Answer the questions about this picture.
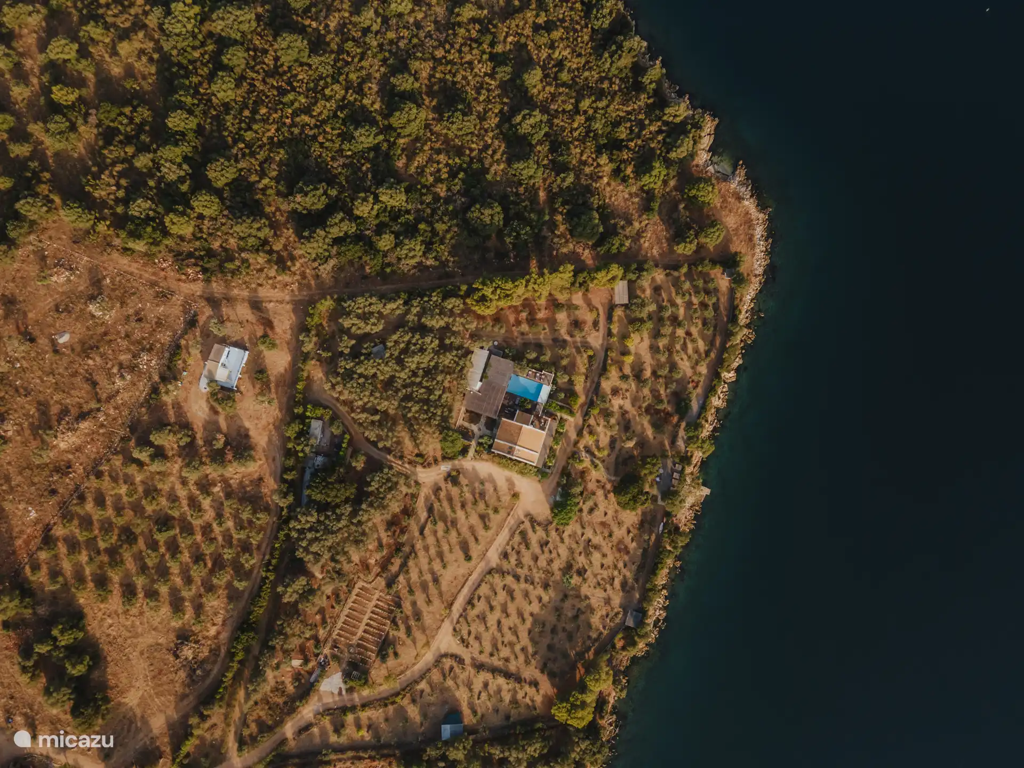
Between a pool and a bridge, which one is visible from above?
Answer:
pool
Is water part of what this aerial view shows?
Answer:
Yes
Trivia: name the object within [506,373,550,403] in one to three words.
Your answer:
swimming pool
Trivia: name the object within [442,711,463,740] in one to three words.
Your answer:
shed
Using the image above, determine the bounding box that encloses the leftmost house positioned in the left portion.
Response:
[200,344,252,392]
